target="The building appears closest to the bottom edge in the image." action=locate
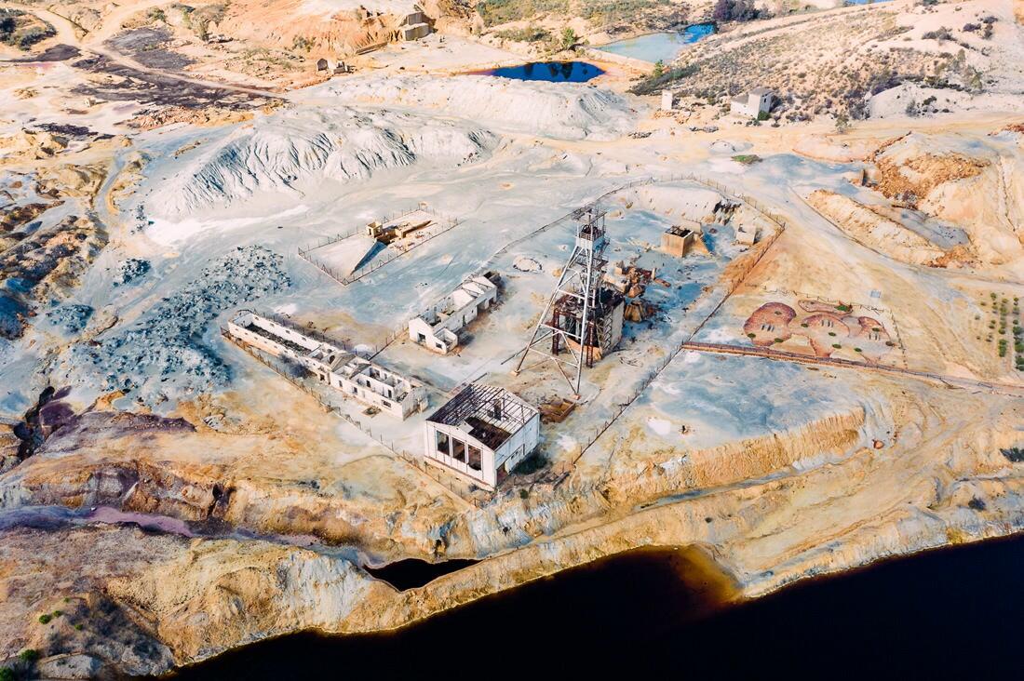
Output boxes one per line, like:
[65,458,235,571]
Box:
[422,380,539,491]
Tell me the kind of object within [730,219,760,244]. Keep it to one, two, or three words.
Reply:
house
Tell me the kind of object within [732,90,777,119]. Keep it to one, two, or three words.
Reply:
house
